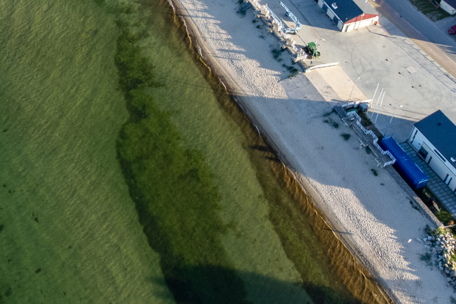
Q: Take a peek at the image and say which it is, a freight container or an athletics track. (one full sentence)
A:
The image shows a freight container.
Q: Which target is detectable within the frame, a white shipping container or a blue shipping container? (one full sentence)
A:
This aerial view contains a blue shipping container.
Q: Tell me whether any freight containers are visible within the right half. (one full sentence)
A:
Yes, a freight container is visible within the right half.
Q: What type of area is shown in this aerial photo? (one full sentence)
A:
The picture captures a beach.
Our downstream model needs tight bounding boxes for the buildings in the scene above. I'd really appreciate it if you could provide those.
[438,0,456,15]
[317,0,379,30]
[409,110,456,190]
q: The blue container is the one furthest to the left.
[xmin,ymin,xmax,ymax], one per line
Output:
[378,136,409,167]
